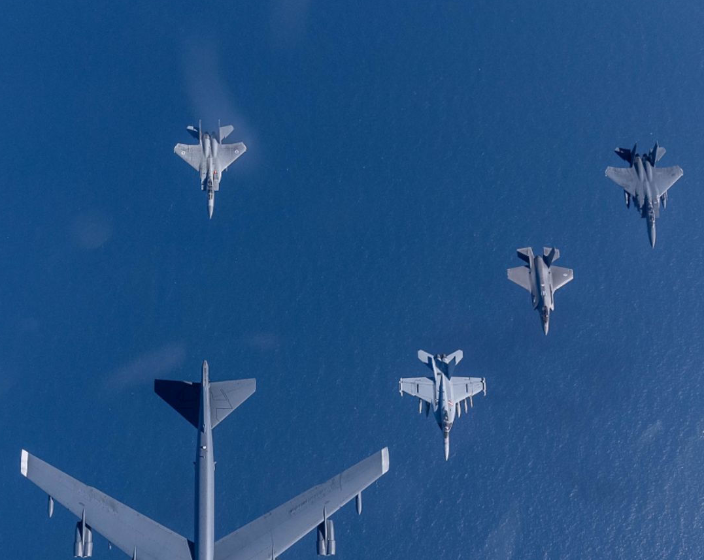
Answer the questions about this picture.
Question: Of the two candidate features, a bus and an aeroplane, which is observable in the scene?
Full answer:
This aerial view contains an aeroplane.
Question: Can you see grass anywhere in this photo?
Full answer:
No, grass can't be seen anywhere here.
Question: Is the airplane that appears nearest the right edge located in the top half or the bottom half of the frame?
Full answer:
Seen from above, the airplane that appears nearest the right edge lies in the top half of the view.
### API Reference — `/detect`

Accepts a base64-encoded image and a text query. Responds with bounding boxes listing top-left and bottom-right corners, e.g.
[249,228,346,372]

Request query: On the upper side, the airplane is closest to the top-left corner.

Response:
[175,118,246,219]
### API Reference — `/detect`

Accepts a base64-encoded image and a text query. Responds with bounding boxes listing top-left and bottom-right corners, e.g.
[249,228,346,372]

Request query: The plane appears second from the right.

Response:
[506,247,574,335]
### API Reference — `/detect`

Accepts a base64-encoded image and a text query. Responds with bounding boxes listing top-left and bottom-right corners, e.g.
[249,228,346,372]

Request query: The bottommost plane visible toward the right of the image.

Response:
[400,350,485,461]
